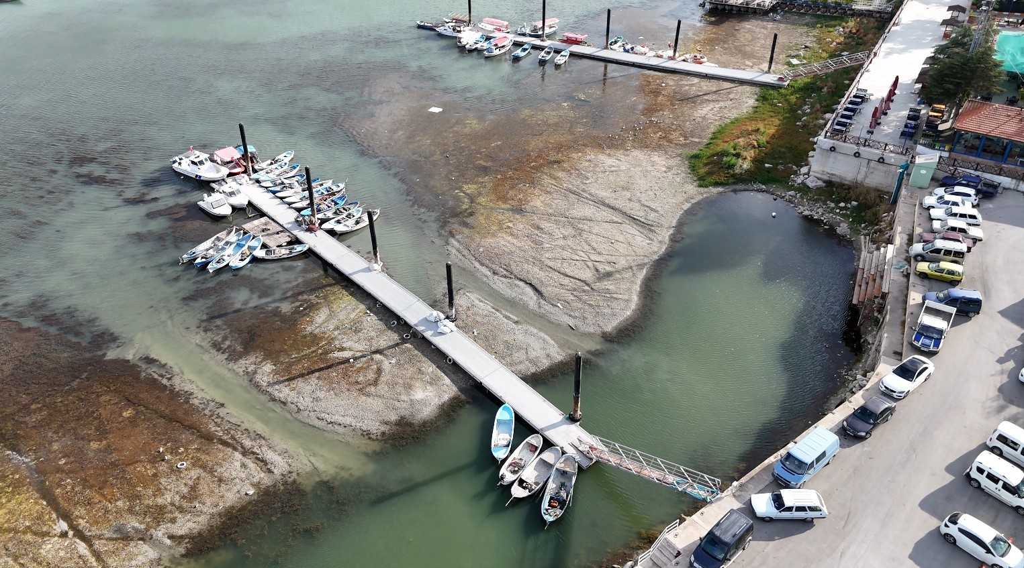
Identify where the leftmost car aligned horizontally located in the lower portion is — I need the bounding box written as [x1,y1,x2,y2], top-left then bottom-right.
[750,488,831,524]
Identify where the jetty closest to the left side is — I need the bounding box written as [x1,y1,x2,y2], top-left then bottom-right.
[222,171,611,470]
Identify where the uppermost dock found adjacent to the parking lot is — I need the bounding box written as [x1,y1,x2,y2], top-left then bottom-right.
[466,28,787,85]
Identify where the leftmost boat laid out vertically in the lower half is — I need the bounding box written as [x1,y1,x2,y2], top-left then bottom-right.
[487,402,519,470]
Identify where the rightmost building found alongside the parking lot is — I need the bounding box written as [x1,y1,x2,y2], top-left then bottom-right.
[952,103,1024,166]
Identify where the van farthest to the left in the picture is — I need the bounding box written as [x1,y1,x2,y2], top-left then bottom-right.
[691,512,756,568]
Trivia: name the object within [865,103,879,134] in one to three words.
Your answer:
umbrella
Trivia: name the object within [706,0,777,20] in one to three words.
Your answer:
pier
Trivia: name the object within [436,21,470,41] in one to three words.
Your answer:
boat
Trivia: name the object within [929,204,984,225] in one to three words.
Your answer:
car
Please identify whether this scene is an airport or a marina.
marina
